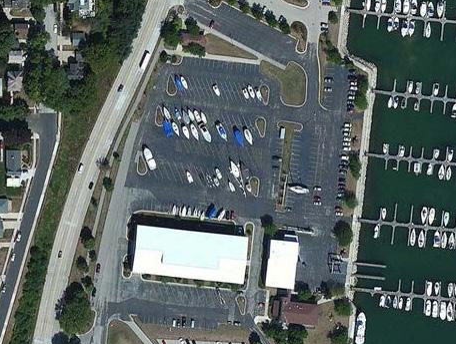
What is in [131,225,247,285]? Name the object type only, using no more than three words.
building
